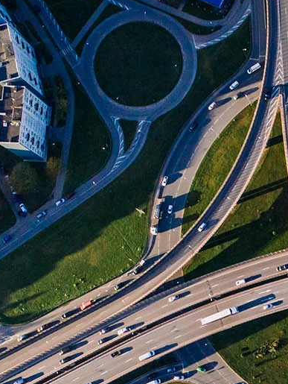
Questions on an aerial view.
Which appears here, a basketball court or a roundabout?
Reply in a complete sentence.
Of the two, only a roundabout appears.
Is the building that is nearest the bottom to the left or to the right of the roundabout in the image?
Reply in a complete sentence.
You can see the building that is nearest the bottom positioned to the left of the roundabout.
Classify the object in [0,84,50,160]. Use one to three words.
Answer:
building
